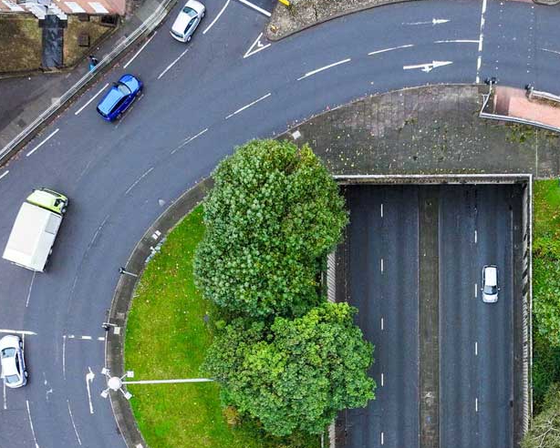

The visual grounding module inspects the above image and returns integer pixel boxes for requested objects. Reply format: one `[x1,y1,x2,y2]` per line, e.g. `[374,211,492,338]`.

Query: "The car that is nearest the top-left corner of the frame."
[97,75,142,124]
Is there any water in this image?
No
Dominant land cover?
paved ground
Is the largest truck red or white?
white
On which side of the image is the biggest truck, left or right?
left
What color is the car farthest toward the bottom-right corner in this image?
white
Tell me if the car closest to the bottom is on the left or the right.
left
